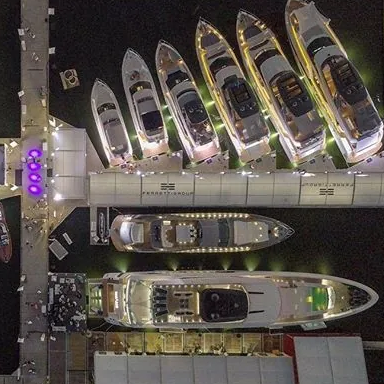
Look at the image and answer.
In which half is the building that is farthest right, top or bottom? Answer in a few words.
bottom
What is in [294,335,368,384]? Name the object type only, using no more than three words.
building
